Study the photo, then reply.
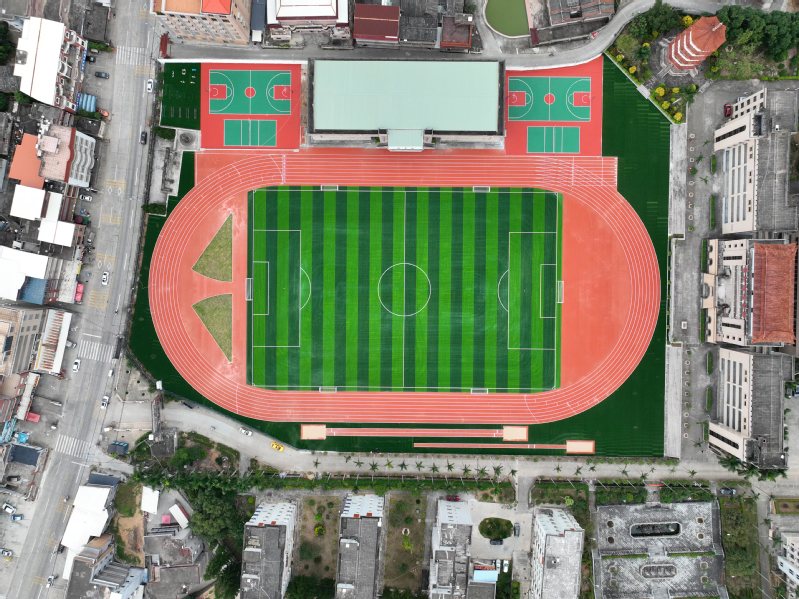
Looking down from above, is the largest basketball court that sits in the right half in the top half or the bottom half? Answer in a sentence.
Seen from above, the largest basketball court that sits in the right half lies in the top half of the view.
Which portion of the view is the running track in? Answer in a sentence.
The running track sits in the center section of the image.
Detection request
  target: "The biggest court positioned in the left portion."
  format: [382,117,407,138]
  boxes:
[201,64,301,150]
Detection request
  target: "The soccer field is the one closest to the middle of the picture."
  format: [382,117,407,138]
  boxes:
[247,185,563,393]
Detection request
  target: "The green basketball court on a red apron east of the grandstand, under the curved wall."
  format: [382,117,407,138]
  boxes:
[506,55,604,155]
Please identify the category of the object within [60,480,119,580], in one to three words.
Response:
building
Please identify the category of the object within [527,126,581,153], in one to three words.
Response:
sports court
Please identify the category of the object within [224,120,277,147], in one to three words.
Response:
sports court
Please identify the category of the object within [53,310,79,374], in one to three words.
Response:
shed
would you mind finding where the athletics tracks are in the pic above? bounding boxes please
[148,146,661,424]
